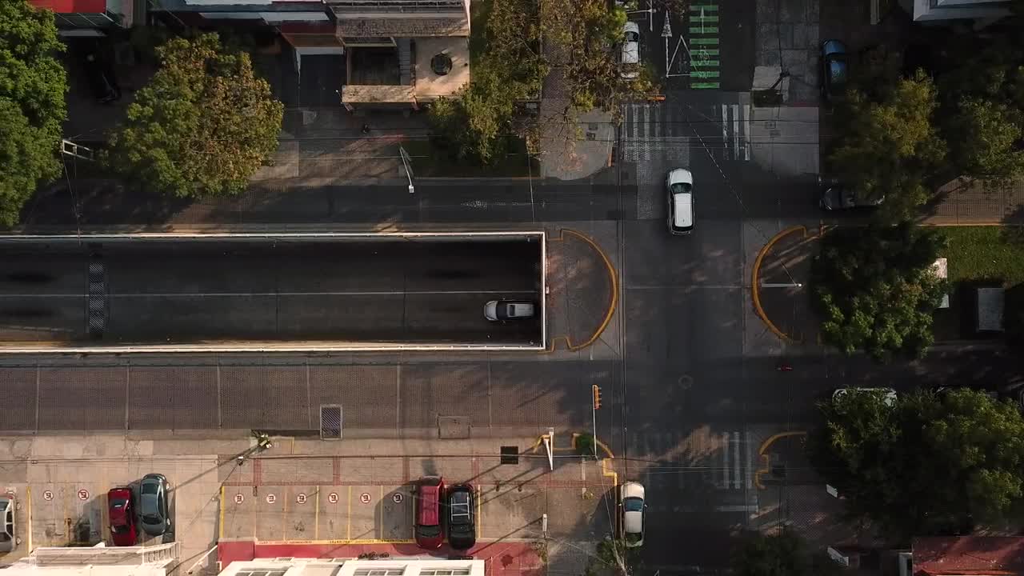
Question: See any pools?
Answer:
No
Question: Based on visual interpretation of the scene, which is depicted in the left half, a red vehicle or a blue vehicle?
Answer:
red vehicle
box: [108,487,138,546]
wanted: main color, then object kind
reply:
red car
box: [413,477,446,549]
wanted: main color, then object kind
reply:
red car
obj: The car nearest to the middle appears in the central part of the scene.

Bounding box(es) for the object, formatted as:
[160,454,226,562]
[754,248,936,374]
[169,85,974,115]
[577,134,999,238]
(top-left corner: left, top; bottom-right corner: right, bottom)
[485,299,537,324]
